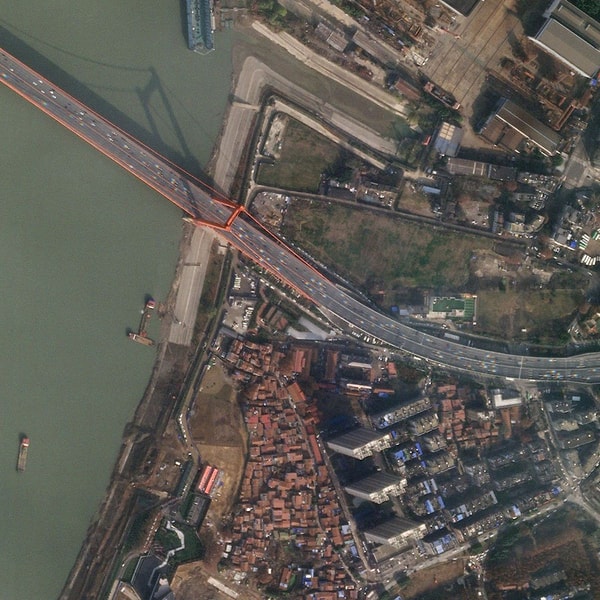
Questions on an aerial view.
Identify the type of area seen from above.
port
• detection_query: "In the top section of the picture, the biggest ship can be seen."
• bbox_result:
[422,86,459,111]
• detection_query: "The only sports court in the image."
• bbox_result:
[432,295,476,325]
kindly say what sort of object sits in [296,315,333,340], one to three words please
shed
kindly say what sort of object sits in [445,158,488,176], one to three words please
shed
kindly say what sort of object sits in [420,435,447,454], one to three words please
building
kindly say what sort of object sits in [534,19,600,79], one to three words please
building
